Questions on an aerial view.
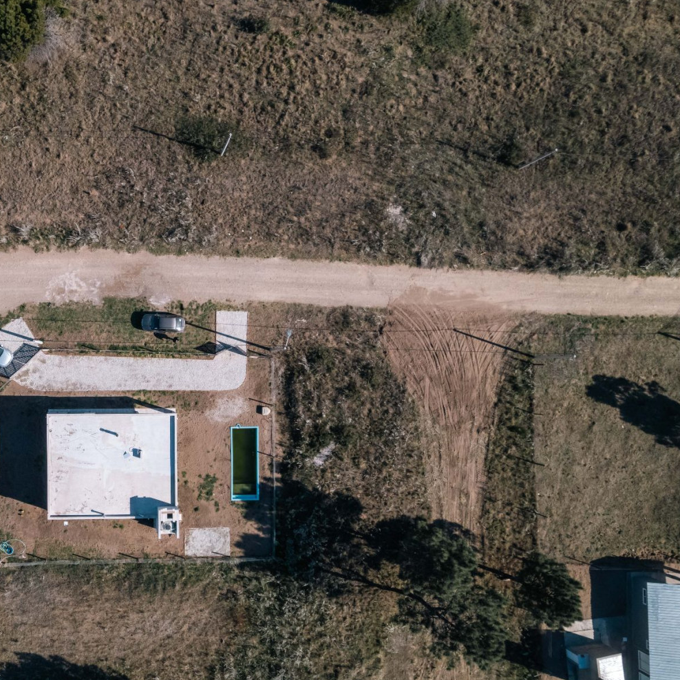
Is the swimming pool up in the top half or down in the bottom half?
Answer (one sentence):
Seen from above, the swimming pool lies in the bottom half of the view.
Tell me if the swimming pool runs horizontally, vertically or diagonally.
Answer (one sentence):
In this picture, the swimming pool is oriented vertically.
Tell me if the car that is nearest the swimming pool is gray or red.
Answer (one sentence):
The color of the car that is nearest the swimming pool is gray.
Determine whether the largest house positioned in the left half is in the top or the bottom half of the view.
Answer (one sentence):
It is in the bottom half that the largest house positioned in the left half appears.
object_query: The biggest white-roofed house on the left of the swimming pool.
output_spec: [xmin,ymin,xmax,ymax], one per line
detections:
[48,408,177,519]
